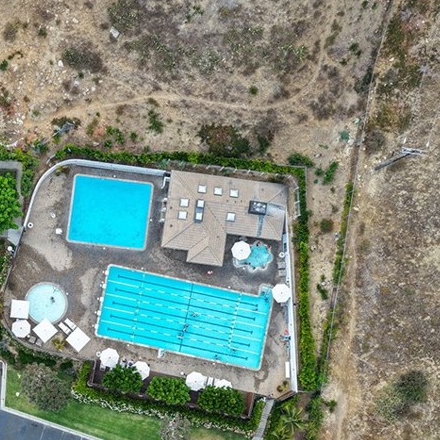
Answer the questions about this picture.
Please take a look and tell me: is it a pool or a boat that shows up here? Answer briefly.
pool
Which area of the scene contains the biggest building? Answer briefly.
center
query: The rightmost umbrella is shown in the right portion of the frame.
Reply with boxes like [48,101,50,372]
[271,284,290,302]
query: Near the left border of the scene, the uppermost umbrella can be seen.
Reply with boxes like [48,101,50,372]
[11,300,29,318]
